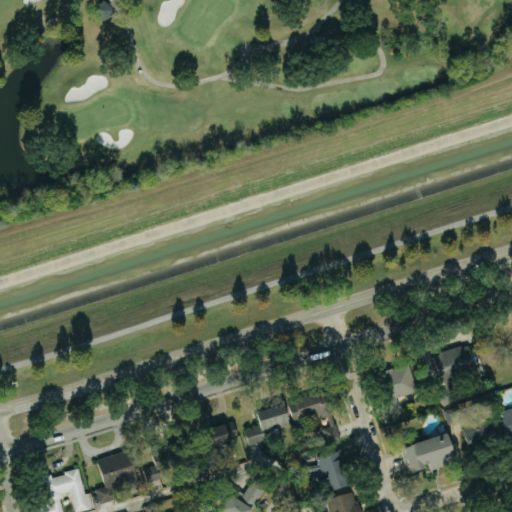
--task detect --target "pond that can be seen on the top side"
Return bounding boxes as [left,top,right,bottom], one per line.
[0,36,62,194]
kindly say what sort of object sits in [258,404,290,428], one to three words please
house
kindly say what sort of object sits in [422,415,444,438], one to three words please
swimming pool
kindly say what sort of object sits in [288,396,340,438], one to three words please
house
